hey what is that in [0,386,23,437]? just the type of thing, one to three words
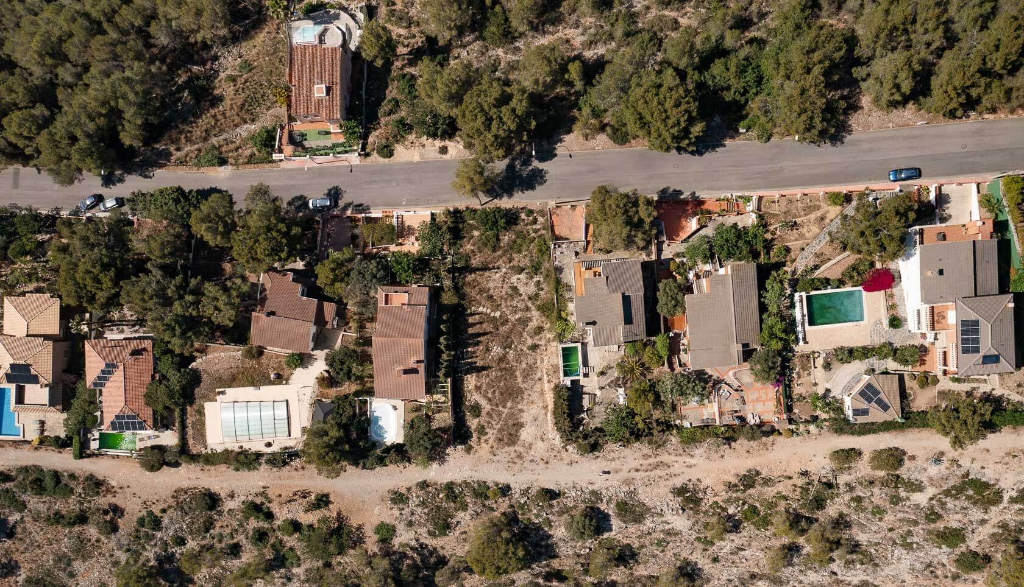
swimming pool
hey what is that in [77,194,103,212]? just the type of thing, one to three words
car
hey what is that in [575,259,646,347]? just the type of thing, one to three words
house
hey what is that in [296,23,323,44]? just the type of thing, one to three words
swimming pool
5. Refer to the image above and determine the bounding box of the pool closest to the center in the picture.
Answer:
[559,342,582,381]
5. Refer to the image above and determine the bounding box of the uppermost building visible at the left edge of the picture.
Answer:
[3,293,69,335]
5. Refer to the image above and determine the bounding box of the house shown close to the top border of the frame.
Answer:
[292,23,349,129]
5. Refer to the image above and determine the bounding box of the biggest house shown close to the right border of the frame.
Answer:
[892,220,1017,377]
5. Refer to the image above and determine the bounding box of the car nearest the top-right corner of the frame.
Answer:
[887,168,919,183]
